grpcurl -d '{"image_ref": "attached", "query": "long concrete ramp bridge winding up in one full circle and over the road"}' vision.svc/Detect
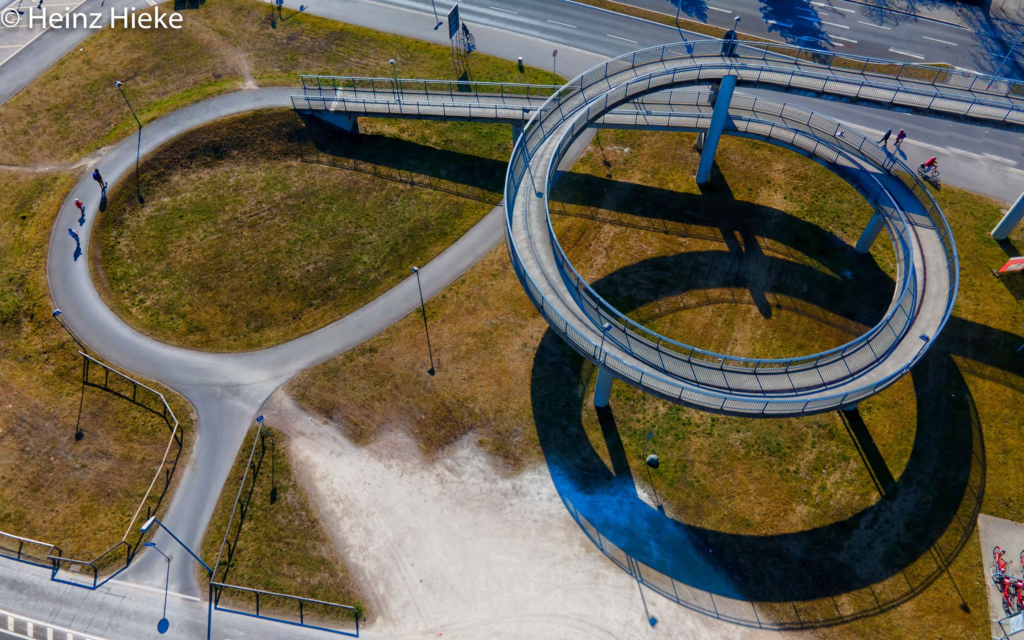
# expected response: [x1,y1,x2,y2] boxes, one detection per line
[289,31,1024,418]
